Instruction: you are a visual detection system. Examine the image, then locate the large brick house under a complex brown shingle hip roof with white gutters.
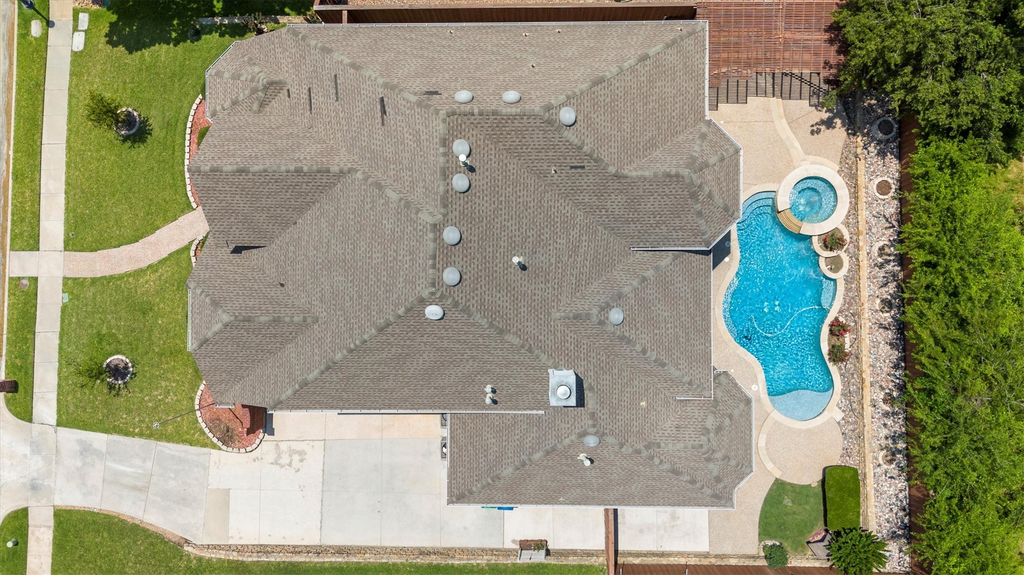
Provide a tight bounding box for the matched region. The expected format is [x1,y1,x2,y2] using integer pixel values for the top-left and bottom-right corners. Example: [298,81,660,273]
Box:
[188,20,754,508]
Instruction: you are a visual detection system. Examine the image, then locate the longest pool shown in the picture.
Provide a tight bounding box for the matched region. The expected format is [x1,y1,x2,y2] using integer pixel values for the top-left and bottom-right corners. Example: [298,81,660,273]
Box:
[716,184,845,428]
